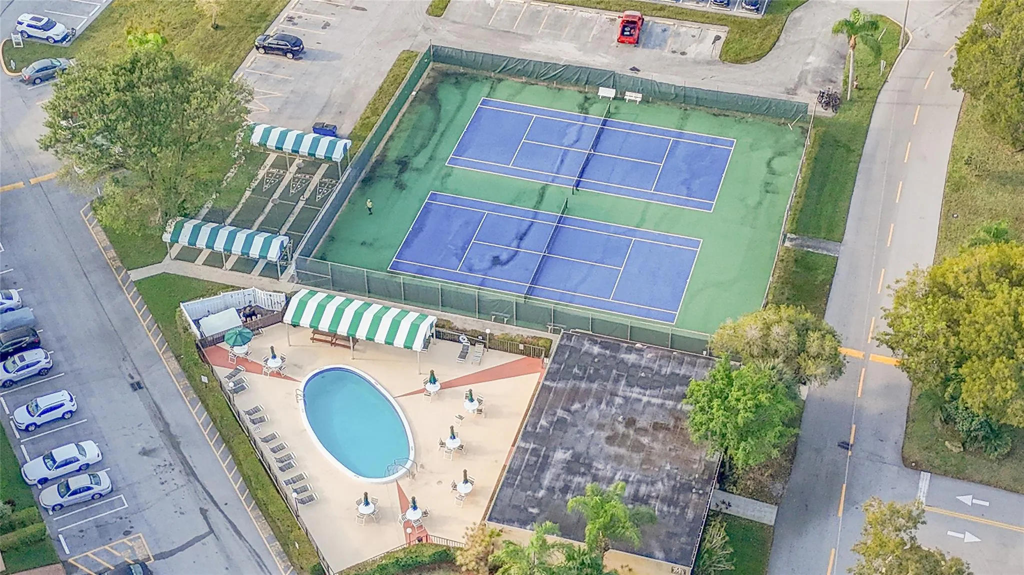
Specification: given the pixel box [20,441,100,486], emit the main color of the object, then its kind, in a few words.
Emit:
white car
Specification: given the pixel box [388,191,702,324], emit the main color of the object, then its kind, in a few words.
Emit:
blue tennis court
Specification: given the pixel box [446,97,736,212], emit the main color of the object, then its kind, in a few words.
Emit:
blue tennis court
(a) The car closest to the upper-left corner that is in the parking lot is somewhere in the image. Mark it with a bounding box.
[15,15,69,43]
